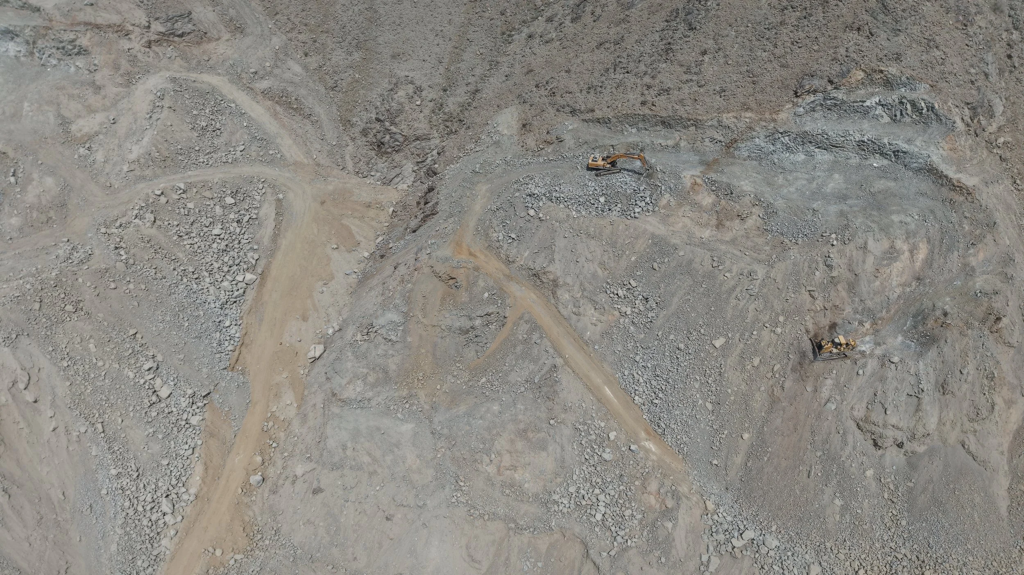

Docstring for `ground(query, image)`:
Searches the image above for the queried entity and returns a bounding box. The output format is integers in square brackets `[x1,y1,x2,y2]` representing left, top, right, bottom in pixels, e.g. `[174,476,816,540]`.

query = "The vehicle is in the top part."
[588,152,652,179]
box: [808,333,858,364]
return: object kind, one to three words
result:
work vehicle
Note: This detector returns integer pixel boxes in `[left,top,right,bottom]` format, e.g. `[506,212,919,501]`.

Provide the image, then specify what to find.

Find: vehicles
[588,152,652,179]
[808,333,858,364]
